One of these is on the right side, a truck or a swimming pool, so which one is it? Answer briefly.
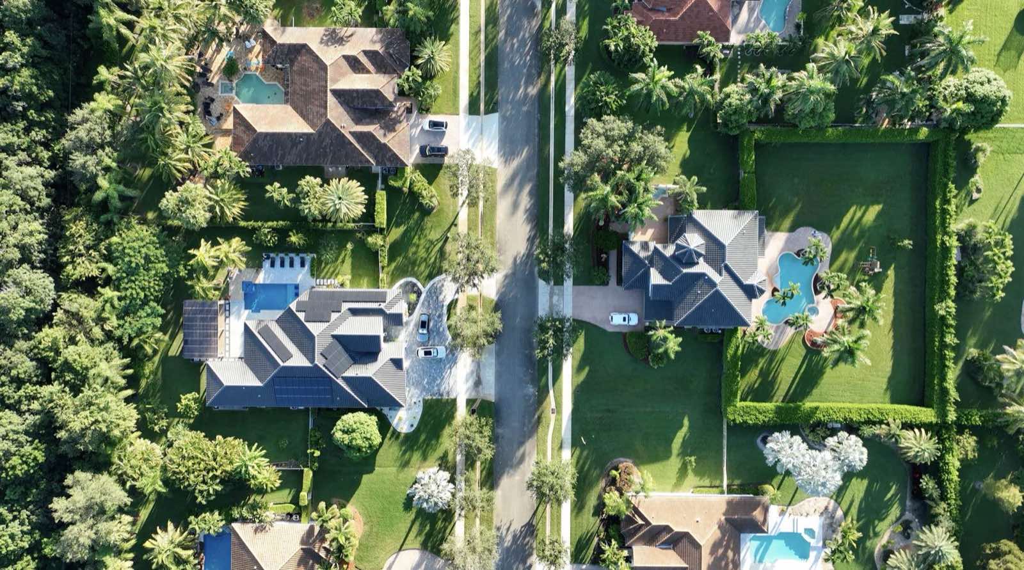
swimming pool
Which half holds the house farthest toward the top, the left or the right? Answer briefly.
right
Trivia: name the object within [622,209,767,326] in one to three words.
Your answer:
house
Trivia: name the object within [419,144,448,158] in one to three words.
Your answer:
car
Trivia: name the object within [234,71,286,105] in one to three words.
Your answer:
swimming pool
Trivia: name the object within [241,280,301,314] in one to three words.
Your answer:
swimming pool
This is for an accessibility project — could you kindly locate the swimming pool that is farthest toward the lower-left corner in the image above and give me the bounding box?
[203,532,231,570]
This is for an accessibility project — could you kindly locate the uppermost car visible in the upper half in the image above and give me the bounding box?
[423,119,448,132]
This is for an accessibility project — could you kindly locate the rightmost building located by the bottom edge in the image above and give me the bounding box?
[620,494,770,570]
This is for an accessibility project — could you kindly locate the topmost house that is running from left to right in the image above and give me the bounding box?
[631,0,732,48]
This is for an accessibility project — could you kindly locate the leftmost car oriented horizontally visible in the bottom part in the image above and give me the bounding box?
[417,346,446,359]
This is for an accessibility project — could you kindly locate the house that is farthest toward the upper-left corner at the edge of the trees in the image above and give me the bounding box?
[232,27,410,166]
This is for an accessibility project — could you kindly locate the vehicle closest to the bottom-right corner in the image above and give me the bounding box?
[609,312,638,326]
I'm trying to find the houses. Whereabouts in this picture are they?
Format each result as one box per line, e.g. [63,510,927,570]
[232,27,410,166]
[620,494,770,570]
[230,520,340,570]
[631,0,732,48]
[622,209,767,326]
[206,287,407,408]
